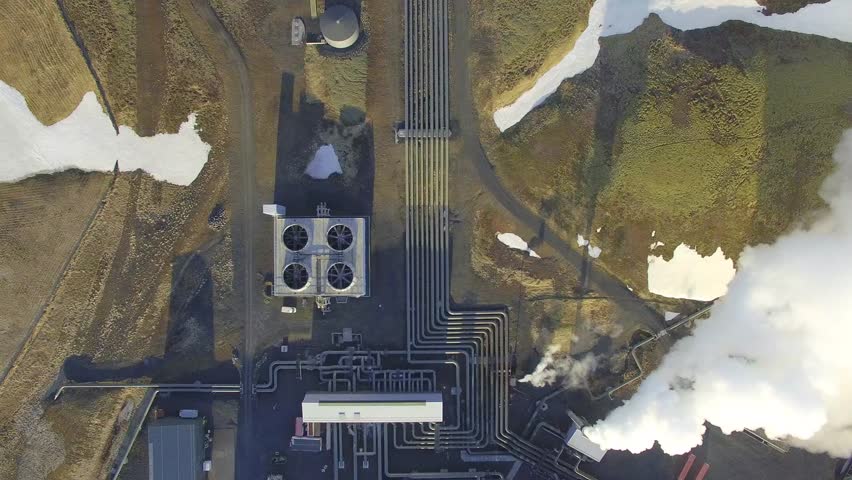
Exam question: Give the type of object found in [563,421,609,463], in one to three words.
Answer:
house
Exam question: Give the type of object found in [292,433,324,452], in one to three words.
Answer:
building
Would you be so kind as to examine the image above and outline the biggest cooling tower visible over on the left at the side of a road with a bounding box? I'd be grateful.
[272,201,370,312]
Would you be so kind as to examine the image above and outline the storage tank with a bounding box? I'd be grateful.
[305,4,362,47]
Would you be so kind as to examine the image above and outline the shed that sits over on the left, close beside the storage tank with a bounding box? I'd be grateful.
[290,16,305,44]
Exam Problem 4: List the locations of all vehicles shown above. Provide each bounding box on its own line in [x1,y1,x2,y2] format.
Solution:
[180,408,200,418]
[280,306,297,314]
[267,473,283,480]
